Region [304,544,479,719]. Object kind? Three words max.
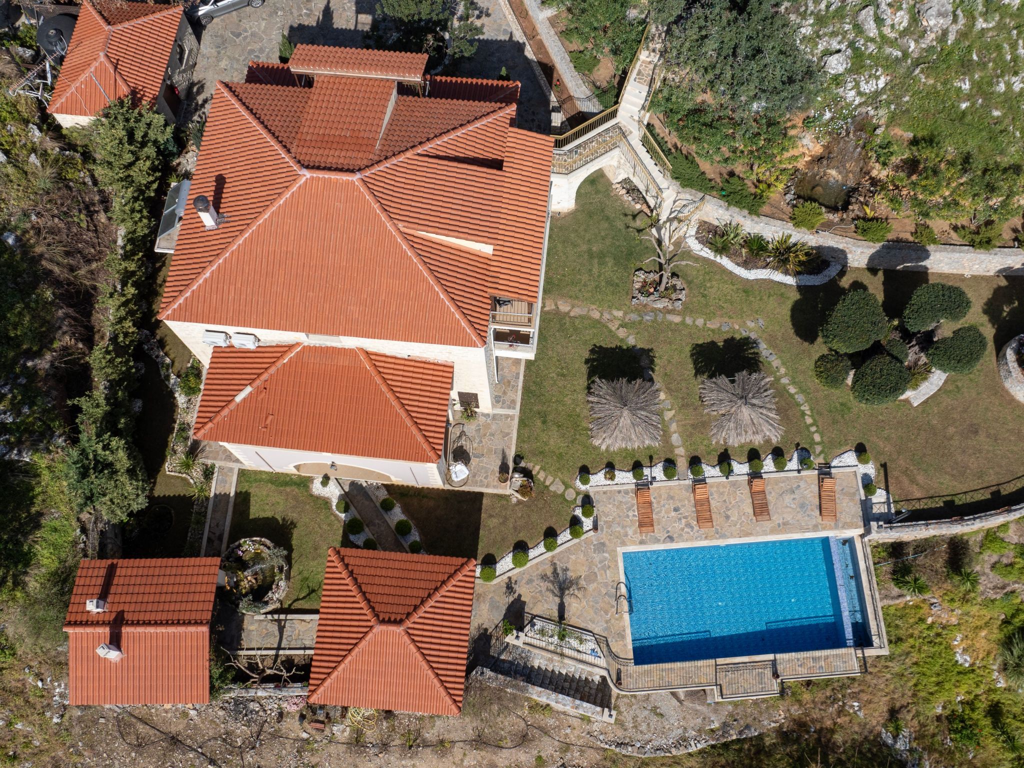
building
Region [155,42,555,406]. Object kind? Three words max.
house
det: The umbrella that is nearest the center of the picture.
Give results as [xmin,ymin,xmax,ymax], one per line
[580,373,668,454]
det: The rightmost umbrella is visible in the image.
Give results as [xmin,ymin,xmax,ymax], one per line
[692,366,783,454]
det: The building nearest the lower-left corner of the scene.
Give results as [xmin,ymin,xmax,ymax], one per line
[64,556,221,705]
